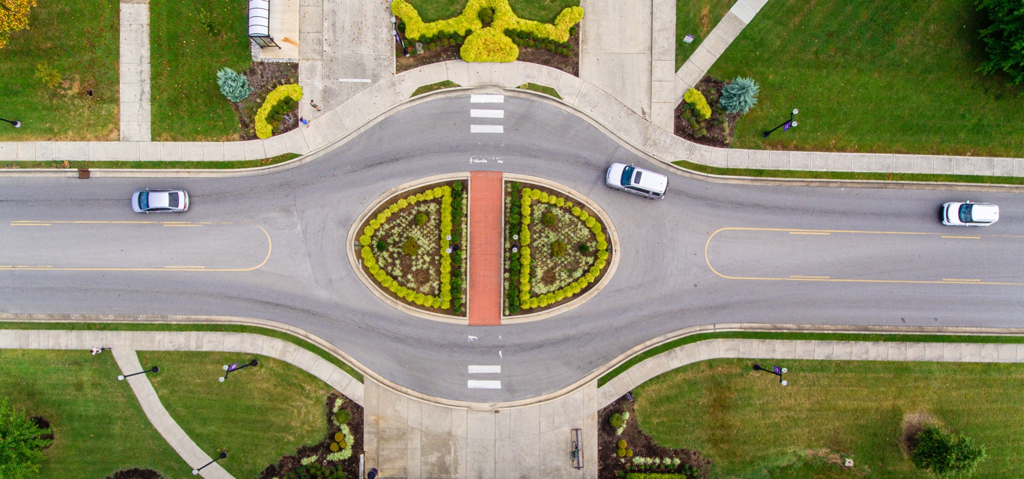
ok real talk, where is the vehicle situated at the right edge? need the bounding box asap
[939,199,1000,227]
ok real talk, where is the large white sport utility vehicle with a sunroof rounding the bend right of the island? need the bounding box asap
[607,165,666,201]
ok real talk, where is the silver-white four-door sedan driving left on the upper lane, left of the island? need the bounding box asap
[131,187,191,214]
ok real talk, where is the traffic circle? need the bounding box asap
[347,171,620,326]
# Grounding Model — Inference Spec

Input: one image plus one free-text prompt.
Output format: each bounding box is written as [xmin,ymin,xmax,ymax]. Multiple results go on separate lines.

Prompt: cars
[607,165,666,201]
[939,199,1000,227]
[131,187,191,214]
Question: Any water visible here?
No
